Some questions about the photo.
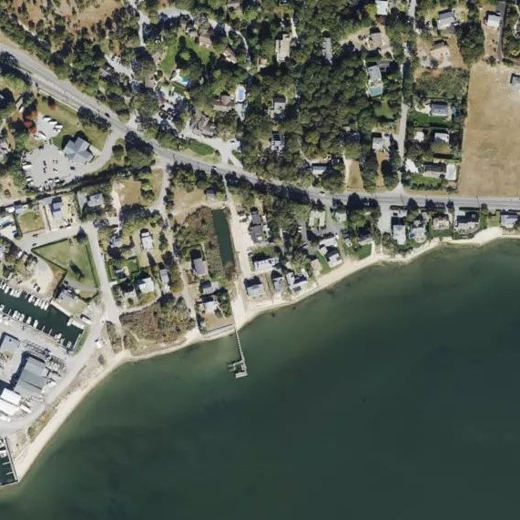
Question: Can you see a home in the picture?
Yes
